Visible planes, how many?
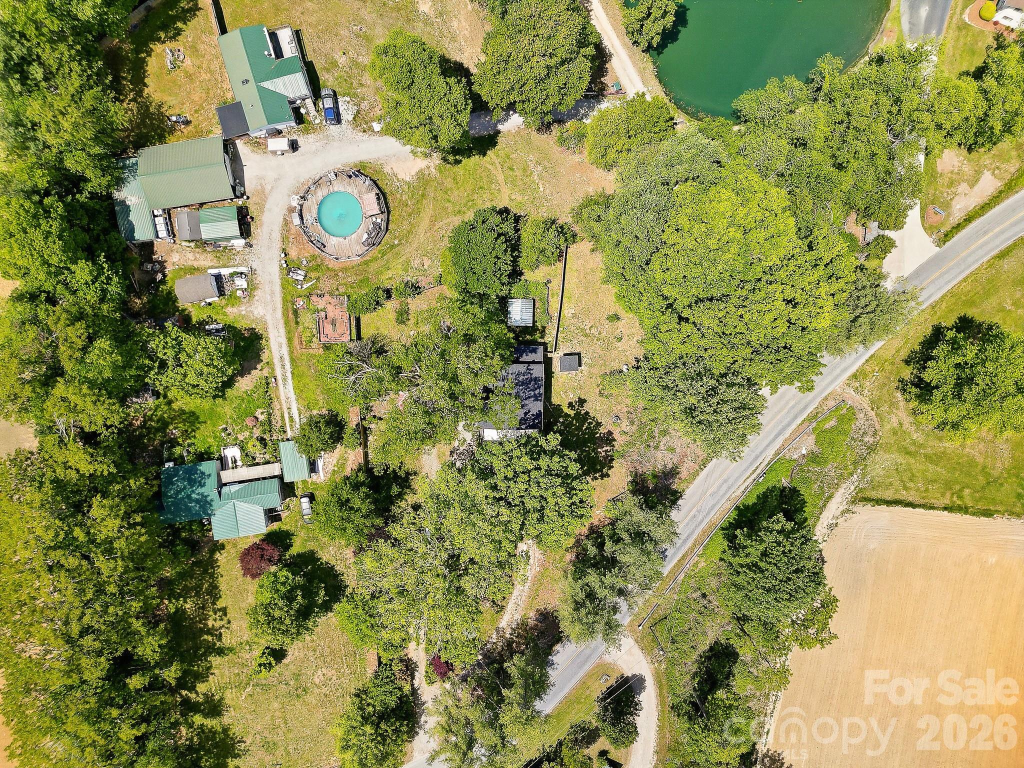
none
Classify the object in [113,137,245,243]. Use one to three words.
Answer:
barn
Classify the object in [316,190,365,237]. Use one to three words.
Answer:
swimming pool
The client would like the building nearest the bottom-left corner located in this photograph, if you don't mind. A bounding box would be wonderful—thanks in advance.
[162,460,288,540]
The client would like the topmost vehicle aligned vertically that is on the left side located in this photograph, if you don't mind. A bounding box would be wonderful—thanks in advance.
[321,87,337,123]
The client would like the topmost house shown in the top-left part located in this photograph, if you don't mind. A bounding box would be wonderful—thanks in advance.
[216,22,318,143]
